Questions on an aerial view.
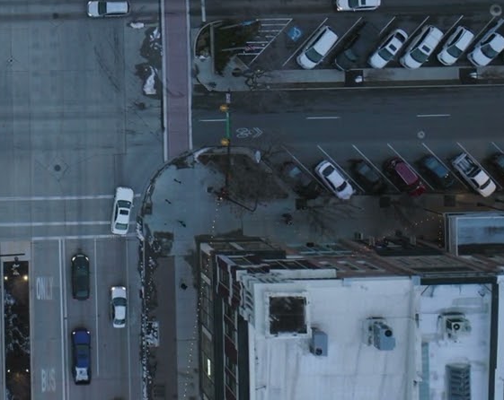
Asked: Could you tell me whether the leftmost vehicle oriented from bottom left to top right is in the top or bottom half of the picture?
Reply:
top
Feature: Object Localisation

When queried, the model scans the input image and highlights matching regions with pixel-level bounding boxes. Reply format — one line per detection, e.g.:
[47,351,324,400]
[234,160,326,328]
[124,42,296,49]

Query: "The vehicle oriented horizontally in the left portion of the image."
[88,0,128,19]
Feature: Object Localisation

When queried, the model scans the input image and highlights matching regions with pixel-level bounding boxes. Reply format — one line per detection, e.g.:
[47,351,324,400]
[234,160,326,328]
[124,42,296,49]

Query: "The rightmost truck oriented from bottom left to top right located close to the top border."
[467,18,504,67]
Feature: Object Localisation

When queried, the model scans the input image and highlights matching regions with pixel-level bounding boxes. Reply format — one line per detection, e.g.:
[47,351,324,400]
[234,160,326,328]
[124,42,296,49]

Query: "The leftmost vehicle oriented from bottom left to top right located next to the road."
[297,26,340,68]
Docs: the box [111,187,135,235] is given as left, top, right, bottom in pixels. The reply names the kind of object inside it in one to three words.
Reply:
car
